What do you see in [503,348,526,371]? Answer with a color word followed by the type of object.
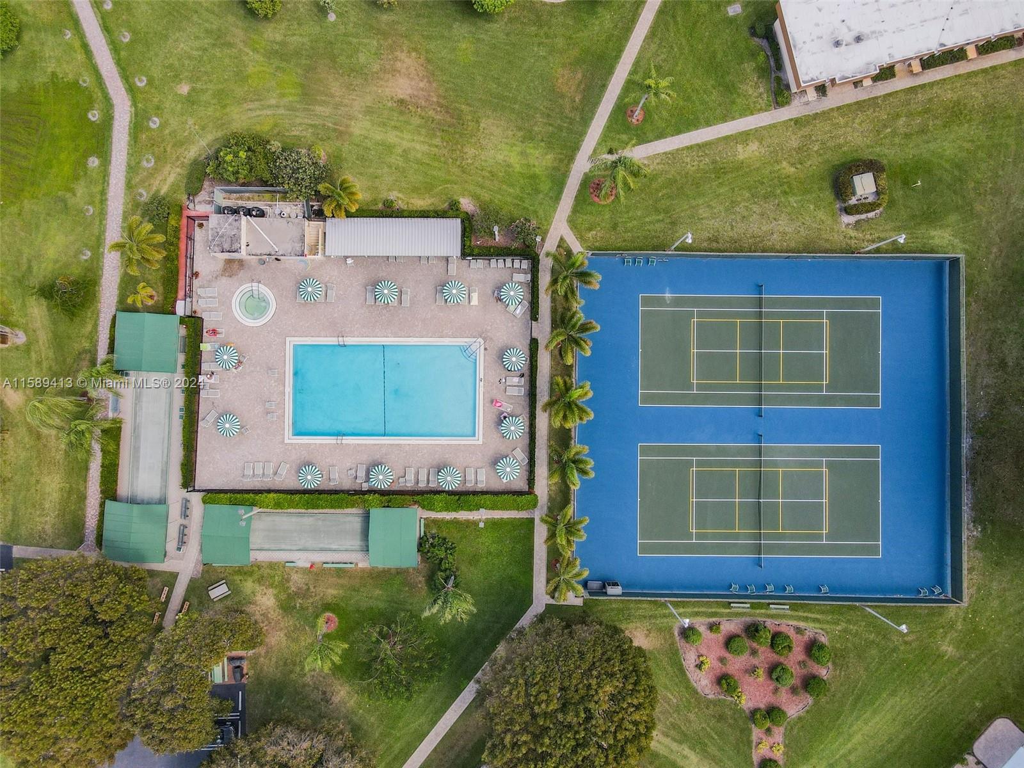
white umbrella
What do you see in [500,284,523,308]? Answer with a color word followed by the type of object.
white umbrella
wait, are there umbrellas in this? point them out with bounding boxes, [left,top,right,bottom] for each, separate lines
[496,456,520,479]
[370,465,393,488]
[500,416,524,439]
[503,348,526,371]
[301,464,325,487]
[375,282,399,306]
[301,279,325,303]
[218,346,241,369]
[219,414,243,438]
[443,281,467,304]
[500,284,523,308]
[439,466,462,489]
